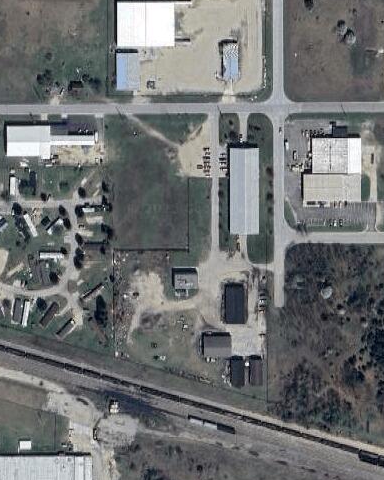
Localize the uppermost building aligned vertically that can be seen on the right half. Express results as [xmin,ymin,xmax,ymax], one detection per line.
[223,43,238,81]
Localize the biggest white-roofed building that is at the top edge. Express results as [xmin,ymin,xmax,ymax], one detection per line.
[117,2,175,47]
